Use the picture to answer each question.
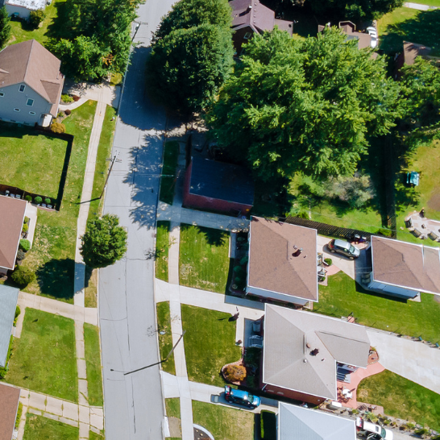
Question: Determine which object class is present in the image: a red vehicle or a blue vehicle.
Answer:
blue vehicle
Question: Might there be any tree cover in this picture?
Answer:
Yes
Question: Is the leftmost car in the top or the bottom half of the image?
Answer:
bottom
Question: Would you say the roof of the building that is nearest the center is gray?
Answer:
No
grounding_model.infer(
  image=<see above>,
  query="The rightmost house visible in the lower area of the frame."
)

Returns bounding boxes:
[366,235,440,304]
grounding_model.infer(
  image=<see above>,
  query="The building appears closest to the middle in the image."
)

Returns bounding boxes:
[184,156,257,217]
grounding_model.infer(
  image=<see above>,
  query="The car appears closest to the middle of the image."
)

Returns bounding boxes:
[328,234,362,257]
